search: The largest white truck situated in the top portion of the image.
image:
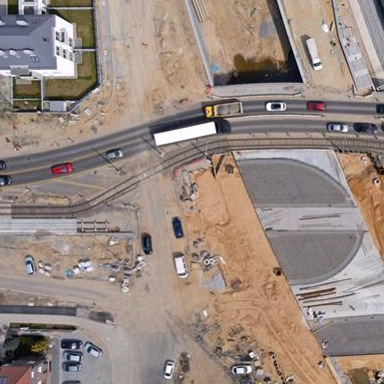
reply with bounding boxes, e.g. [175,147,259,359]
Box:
[155,116,238,145]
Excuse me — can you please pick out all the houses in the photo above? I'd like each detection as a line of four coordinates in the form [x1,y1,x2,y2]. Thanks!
[0,360,51,384]
[0,15,82,81]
